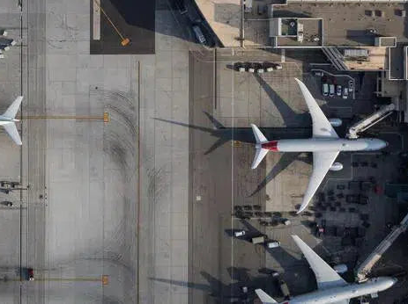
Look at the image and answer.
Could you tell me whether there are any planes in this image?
Yes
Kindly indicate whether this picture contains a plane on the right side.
Yes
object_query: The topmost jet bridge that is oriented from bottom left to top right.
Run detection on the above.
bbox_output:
[344,102,399,141]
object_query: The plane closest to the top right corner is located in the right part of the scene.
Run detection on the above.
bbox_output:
[249,78,388,214]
